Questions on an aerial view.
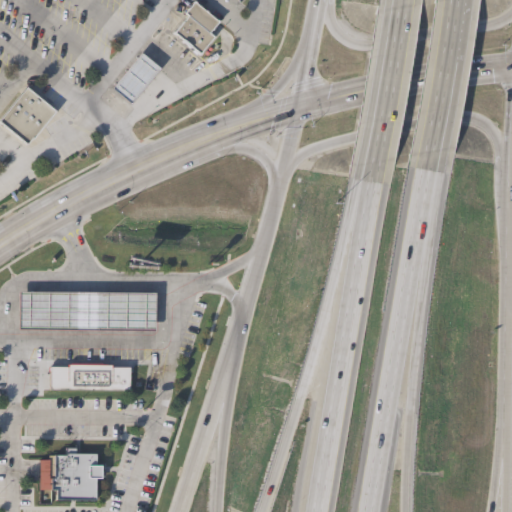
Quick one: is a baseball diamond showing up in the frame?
No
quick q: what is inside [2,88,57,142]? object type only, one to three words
building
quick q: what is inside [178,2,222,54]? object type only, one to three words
building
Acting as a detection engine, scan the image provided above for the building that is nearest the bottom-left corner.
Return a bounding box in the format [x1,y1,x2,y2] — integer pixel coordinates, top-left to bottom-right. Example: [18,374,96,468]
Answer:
[41,448,104,504]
